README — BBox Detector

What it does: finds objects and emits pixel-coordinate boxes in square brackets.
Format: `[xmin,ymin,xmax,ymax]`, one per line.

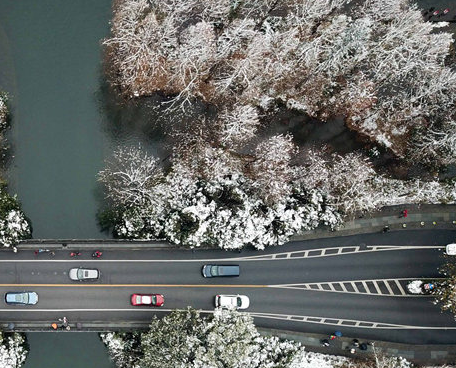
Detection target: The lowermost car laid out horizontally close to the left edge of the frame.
[5,290,39,307]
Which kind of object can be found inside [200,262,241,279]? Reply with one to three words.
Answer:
car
